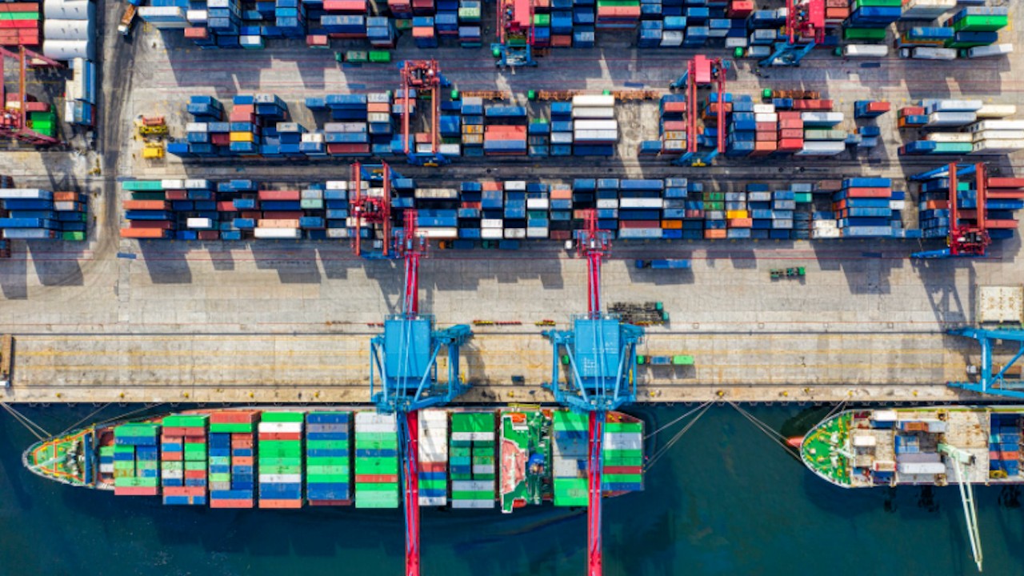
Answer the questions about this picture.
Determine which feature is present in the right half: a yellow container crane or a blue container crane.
blue container crane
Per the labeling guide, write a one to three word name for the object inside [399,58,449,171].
container crane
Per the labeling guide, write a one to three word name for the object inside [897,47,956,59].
vehicle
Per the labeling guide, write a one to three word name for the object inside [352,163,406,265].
container crane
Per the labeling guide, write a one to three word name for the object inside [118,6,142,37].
truck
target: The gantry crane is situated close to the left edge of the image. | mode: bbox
[0,46,75,145]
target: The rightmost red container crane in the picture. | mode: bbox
[904,163,987,264]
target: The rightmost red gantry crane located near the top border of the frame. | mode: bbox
[757,0,826,69]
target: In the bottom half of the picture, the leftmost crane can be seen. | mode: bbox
[367,210,476,576]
